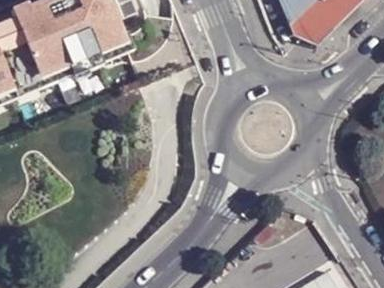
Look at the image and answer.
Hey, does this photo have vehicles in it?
Yes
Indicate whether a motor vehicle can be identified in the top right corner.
Yes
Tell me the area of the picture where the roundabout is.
right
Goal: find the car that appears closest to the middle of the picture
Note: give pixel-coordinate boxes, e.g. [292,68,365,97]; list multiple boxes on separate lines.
[212,152,224,174]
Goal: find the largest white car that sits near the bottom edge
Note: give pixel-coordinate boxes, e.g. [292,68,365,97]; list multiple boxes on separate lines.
[136,266,157,285]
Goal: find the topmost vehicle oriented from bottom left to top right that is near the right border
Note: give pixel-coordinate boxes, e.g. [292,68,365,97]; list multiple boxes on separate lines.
[350,20,370,38]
